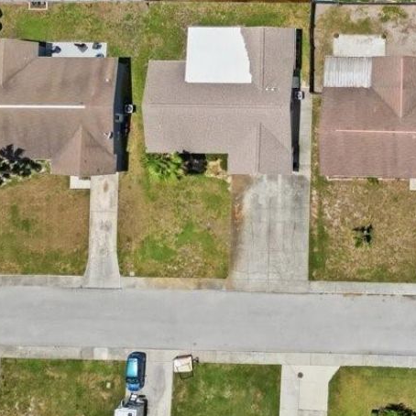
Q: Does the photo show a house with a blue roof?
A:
No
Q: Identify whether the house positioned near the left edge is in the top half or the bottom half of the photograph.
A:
top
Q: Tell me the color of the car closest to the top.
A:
blue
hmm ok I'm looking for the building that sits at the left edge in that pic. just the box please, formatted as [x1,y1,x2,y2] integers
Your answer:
[0,38,124,178]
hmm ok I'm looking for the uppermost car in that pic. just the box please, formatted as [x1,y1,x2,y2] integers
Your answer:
[124,351,146,391]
